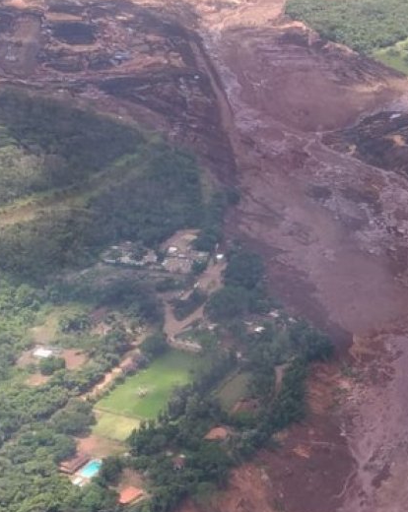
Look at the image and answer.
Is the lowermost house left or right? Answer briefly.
left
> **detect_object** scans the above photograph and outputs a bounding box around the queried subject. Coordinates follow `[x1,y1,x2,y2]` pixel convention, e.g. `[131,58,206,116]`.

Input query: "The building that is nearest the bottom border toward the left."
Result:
[116,484,142,505]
